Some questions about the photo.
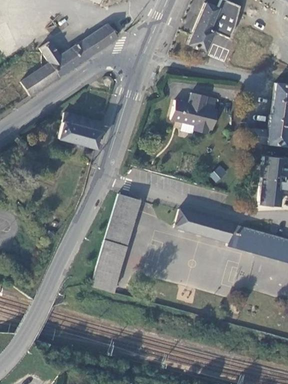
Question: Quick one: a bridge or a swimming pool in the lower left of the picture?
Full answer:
Looking in the lower left of the picture, you will find a bridge.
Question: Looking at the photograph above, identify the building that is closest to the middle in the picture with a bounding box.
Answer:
[104,193,140,244]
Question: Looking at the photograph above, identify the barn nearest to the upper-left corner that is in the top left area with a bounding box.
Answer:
[37,42,61,68]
